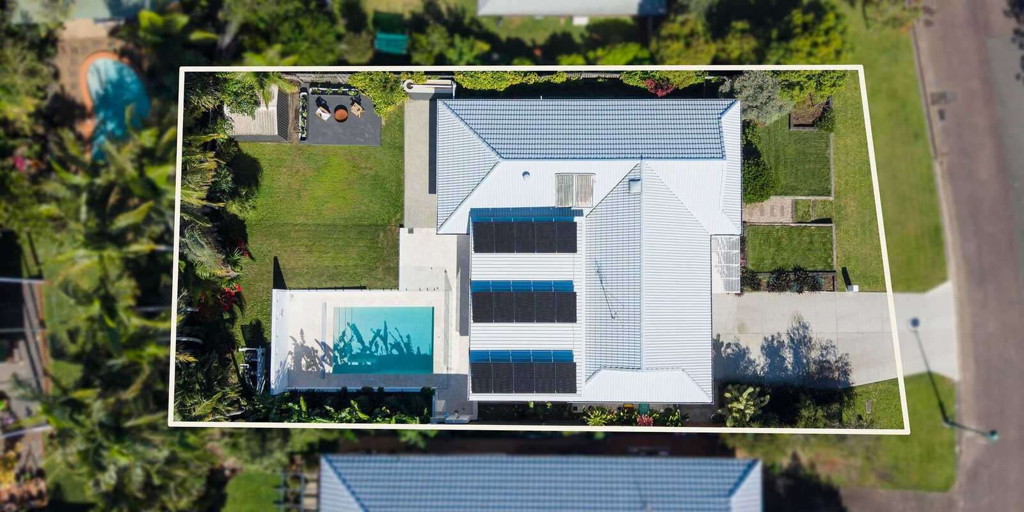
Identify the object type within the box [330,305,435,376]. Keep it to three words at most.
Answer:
swimming pool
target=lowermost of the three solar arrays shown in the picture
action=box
[474,357,577,393]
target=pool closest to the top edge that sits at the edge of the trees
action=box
[77,51,152,167]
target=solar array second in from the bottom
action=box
[474,288,577,323]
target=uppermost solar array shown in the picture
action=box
[474,219,577,253]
